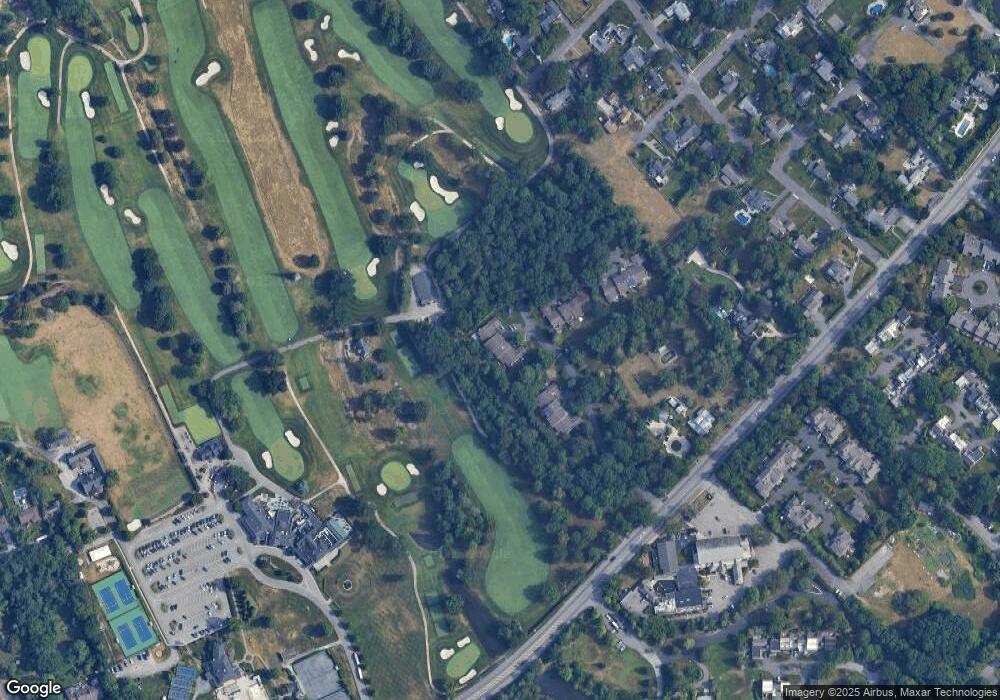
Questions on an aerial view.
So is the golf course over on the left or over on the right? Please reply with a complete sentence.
You can find the golf course on the left side of the picture.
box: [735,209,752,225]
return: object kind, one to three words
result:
swimming pool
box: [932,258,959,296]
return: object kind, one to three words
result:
building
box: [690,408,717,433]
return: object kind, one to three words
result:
house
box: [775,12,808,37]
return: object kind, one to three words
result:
house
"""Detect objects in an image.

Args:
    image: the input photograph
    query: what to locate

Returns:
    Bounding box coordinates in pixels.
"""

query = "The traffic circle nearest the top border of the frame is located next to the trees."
[963,271,997,305]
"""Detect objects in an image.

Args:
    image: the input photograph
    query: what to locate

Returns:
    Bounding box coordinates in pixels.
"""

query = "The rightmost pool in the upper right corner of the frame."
[952,111,975,139]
